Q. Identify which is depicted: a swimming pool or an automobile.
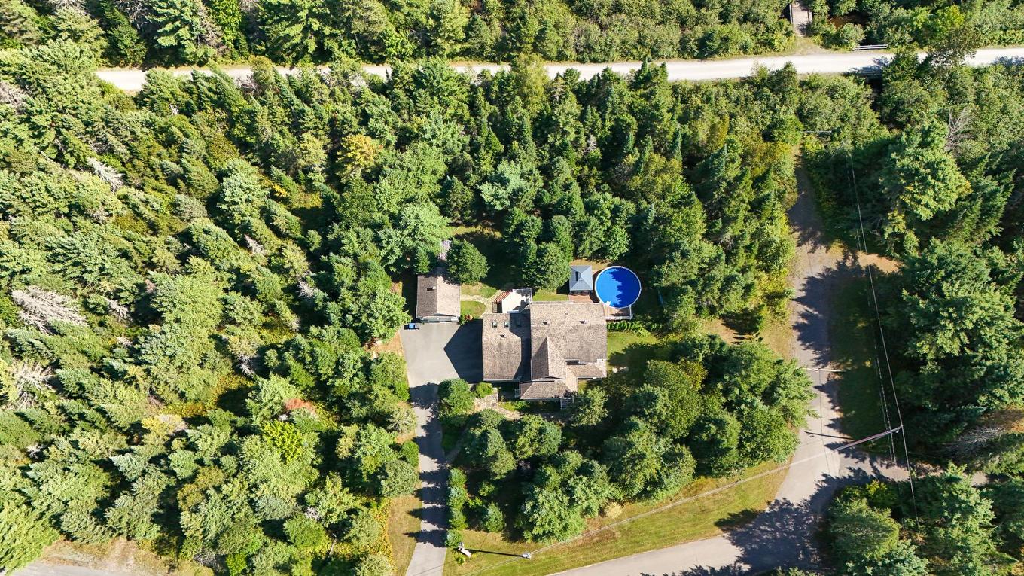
swimming pool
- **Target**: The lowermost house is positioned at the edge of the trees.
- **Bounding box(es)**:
[482,303,608,412]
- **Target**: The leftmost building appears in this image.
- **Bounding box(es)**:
[415,271,462,321]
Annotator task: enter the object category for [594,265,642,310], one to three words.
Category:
swimming pool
